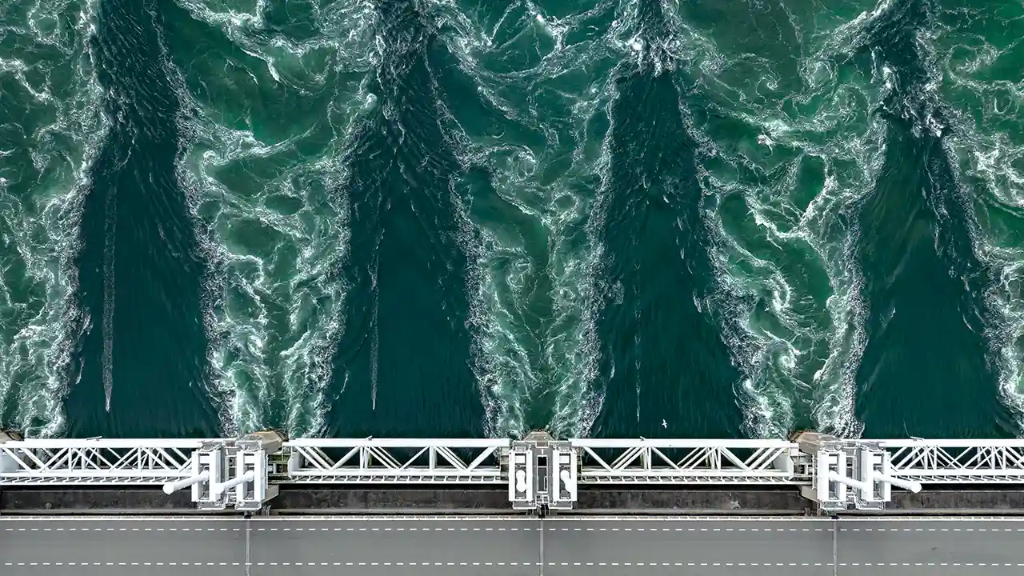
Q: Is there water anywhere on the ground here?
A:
Yes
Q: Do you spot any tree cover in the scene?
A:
No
